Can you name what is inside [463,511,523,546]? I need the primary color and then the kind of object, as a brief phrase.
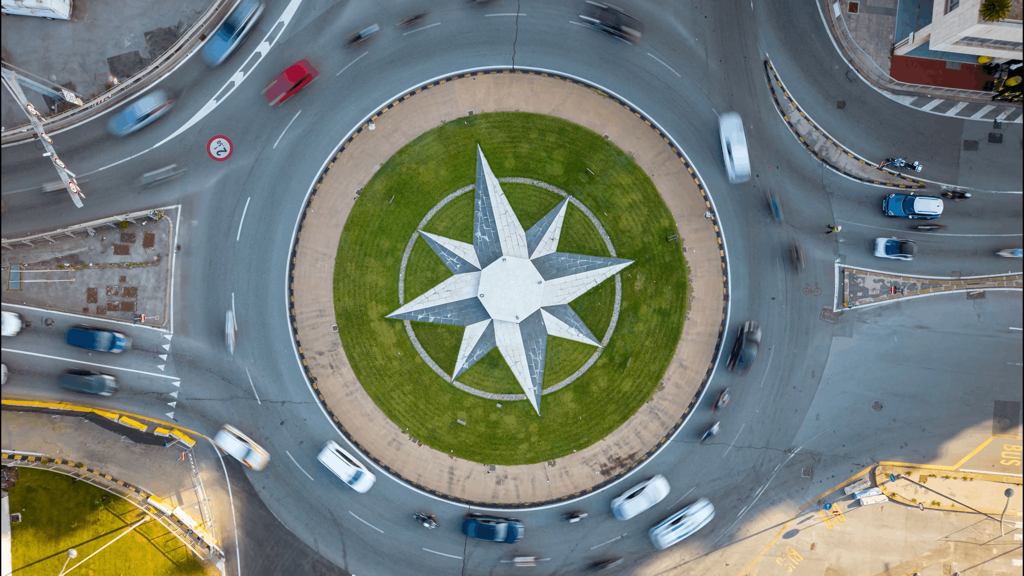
blue car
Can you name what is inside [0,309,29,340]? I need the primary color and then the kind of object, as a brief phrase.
white car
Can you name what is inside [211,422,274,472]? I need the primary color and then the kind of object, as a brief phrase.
white car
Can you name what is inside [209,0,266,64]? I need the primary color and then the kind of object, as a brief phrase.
blue car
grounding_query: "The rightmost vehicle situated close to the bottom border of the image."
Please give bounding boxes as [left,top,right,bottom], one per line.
[649,495,713,550]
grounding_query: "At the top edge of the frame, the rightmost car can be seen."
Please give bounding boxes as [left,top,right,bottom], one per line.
[580,1,648,49]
